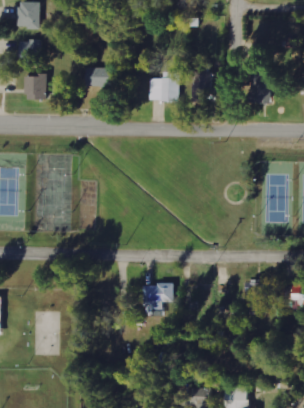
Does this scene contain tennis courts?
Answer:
Yes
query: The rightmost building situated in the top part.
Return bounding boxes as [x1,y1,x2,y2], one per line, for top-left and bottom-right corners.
[252,82,274,105]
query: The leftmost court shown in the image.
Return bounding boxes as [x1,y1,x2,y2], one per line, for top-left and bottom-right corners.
[0,153,26,230]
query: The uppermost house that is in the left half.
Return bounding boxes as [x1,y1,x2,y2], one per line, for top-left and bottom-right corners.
[17,2,42,29]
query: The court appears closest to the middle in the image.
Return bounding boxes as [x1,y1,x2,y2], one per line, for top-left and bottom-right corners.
[80,181,96,230]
